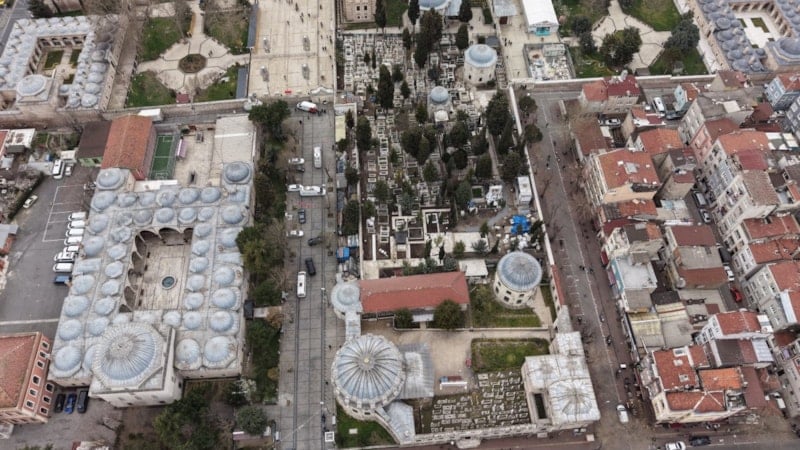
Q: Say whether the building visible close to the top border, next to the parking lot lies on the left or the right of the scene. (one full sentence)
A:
The building visible close to the top border, next to the parking lot sits on the left side.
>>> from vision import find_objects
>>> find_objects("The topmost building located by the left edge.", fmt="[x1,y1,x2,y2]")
[0,14,133,130]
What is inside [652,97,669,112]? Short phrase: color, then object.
white vehicle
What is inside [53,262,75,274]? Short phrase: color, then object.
white vehicle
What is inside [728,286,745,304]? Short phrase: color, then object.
red car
